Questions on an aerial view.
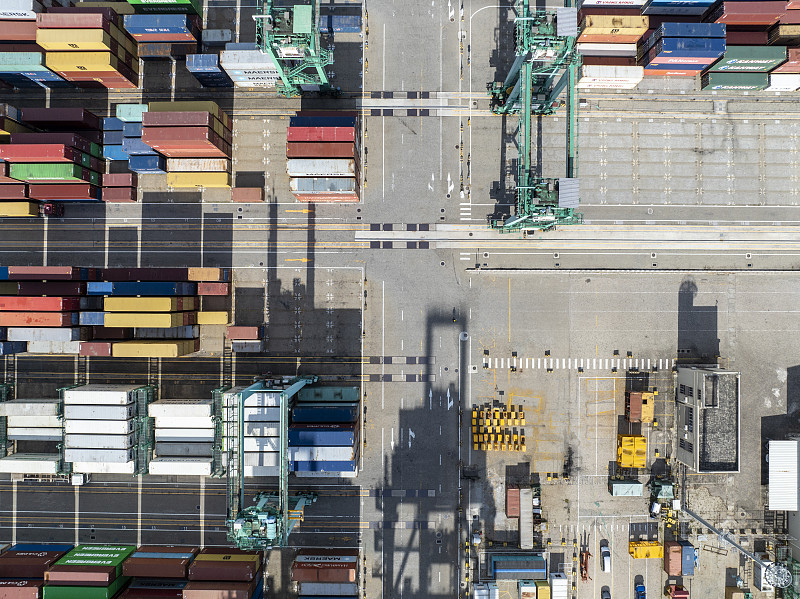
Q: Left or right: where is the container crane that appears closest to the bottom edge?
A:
left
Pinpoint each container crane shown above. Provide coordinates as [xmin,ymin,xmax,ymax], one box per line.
[223,369,318,555]
[250,0,342,98]
[492,0,588,99]
[492,58,591,231]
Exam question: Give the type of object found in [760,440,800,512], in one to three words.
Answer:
shed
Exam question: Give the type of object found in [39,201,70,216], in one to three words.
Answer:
vehicle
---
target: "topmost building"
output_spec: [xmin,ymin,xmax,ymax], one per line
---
[676,369,741,476]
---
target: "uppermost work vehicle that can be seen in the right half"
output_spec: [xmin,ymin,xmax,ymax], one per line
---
[652,468,677,504]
